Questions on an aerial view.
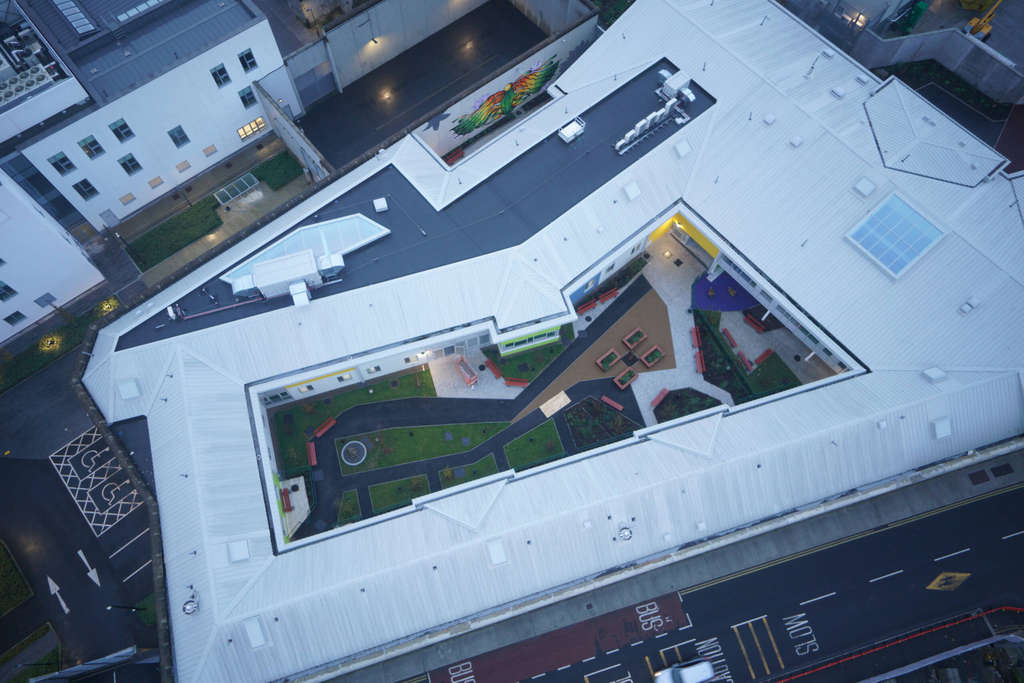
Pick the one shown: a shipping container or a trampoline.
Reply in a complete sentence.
It is a shipping container that can be seen here.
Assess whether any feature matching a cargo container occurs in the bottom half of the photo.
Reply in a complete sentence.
No, no cargo container appears in the bottom half of the photo.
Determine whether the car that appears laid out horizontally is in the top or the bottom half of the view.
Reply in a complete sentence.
The bottom half of the photo is where the car that appears laid out horizontally is.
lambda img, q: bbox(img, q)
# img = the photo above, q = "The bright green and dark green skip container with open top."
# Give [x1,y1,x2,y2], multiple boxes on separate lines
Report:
[892,1,929,38]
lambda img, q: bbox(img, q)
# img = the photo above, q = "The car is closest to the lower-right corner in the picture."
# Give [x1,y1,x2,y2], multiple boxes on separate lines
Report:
[657,654,719,683]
